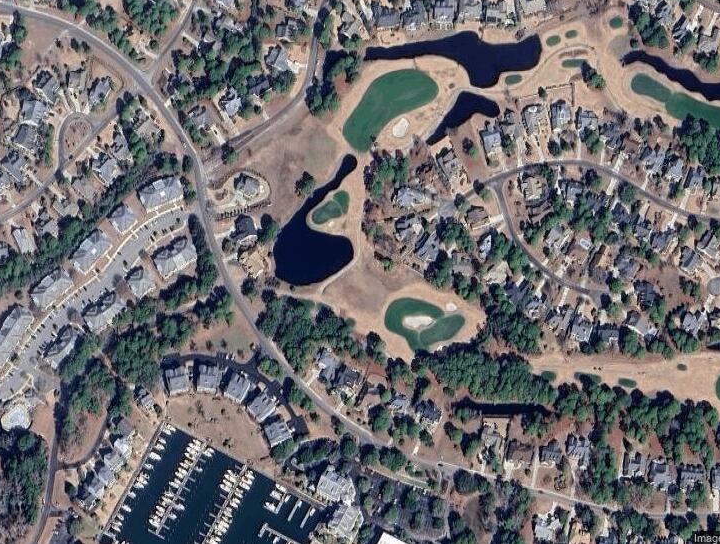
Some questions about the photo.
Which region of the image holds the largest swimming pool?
bottom left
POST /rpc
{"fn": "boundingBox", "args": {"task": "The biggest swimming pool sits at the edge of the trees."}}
[4,404,28,427]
